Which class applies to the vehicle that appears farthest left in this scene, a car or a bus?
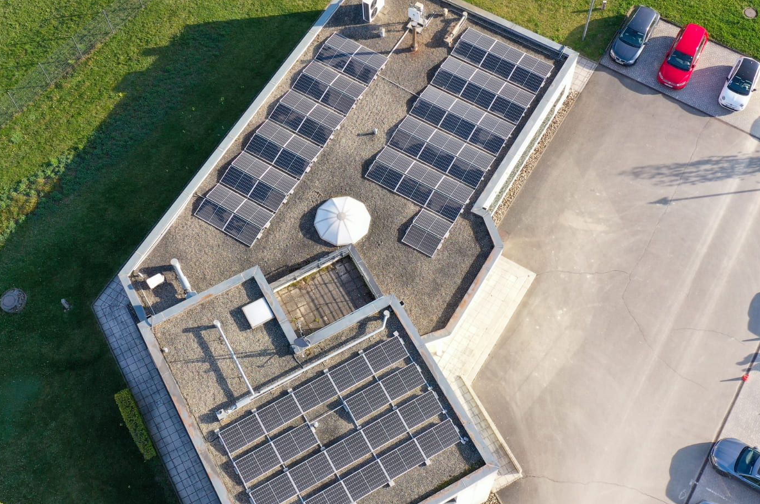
car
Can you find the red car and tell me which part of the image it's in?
top right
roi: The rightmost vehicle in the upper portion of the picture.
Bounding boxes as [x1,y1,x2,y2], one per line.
[717,53,760,112]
